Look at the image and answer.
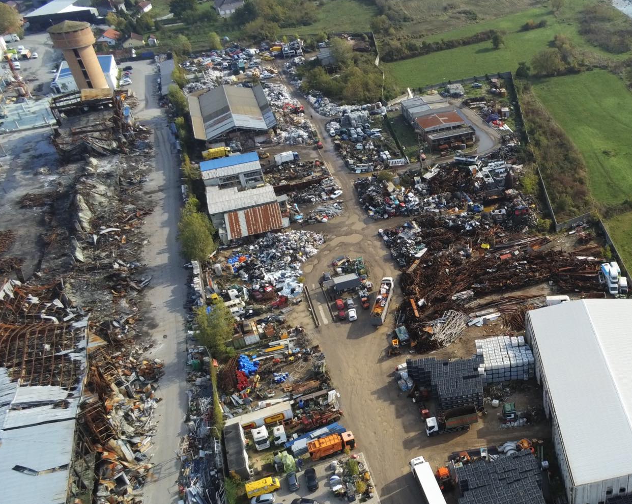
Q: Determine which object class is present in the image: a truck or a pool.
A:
truck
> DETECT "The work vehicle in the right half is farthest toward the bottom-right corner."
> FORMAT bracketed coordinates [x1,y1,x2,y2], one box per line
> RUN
[503,403,515,424]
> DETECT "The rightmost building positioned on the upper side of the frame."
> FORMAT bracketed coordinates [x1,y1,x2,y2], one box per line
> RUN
[401,95,476,151]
